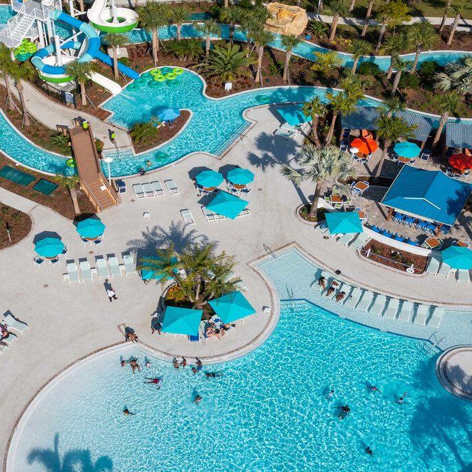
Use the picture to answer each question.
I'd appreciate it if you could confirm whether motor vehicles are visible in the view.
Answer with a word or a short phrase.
No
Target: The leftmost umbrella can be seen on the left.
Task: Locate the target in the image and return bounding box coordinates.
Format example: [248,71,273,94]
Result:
[35,238,65,267]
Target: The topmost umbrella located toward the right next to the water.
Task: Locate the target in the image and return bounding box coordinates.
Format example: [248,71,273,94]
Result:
[277,105,311,133]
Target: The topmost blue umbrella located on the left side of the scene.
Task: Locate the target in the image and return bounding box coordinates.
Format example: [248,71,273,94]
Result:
[154,109,180,135]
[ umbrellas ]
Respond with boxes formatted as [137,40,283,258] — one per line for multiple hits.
[163,307,201,337]
[393,143,420,161]
[326,212,363,241]
[226,168,254,188]
[349,139,378,156]
[209,291,255,324]
[154,109,180,135]
[206,191,247,224]
[76,220,105,250]
[441,243,472,272]
[195,170,224,199]
[35,238,65,267]
[277,105,311,133]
